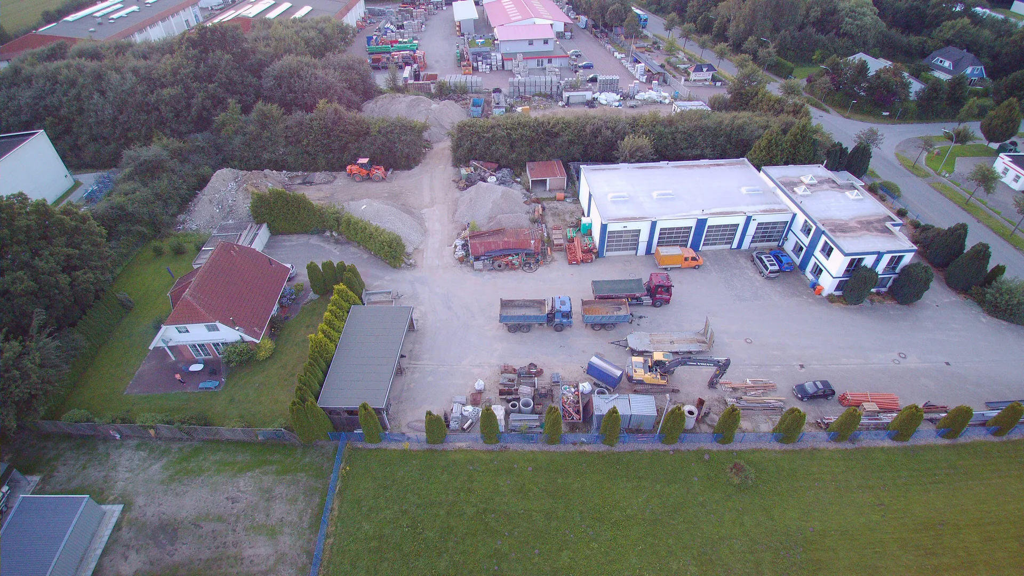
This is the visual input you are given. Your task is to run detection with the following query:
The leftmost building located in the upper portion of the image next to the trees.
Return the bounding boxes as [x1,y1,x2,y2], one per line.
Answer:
[0,130,76,204]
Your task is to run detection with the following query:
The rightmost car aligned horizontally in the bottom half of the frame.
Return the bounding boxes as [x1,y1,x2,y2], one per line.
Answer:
[791,380,839,404]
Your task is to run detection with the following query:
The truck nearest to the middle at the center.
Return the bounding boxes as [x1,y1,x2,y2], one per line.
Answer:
[500,296,574,331]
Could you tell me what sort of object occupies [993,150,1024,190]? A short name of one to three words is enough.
building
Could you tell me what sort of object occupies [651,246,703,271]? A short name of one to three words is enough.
truck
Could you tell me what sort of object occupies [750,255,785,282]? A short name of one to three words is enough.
car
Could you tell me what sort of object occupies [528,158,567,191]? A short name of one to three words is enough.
building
